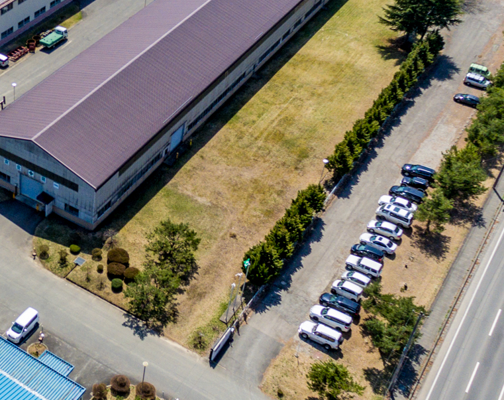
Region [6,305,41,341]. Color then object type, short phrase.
white car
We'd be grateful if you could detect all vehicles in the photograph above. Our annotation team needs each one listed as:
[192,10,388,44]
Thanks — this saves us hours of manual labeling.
[338,268,376,292]
[307,305,355,336]
[347,242,388,263]
[357,234,398,258]
[318,292,359,320]
[389,185,428,206]
[401,175,429,191]
[461,72,493,90]
[364,220,405,244]
[6,305,41,341]
[298,319,346,350]
[375,205,415,229]
[399,162,438,182]
[42,24,66,44]
[467,63,491,80]
[379,195,418,210]
[450,94,484,110]
[344,254,386,280]
[0,55,11,68]
[325,275,370,303]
